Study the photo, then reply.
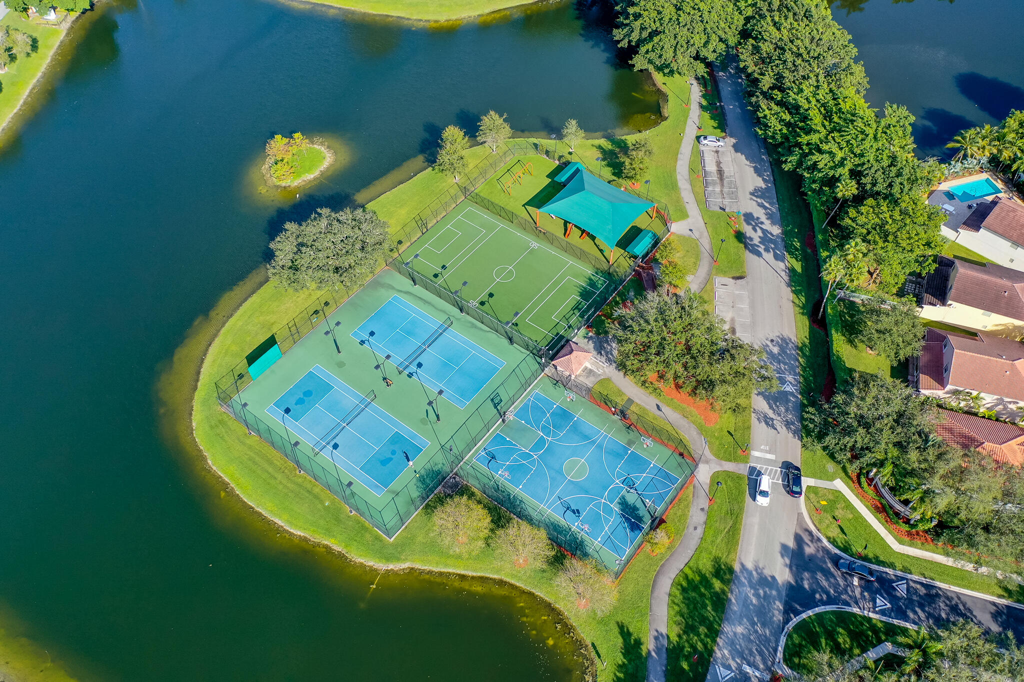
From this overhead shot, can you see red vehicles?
No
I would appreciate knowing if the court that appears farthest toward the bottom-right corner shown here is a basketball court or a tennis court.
basketball court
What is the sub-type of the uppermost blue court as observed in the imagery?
tennis court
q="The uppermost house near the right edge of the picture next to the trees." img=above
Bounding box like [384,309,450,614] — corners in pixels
[952,198,1024,277]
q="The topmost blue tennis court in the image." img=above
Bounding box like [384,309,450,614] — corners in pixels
[350,294,506,409]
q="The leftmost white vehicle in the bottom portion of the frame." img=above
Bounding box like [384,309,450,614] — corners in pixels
[756,473,773,506]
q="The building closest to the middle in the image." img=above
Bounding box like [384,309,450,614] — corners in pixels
[551,341,593,386]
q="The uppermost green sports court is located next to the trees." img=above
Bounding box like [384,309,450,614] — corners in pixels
[387,198,628,373]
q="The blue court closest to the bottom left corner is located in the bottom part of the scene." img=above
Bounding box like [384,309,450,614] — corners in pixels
[265,364,430,496]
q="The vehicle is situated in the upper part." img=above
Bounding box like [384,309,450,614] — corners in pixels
[700,135,725,147]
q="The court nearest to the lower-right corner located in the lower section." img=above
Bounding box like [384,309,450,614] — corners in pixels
[454,374,695,578]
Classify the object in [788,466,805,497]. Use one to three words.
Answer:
car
